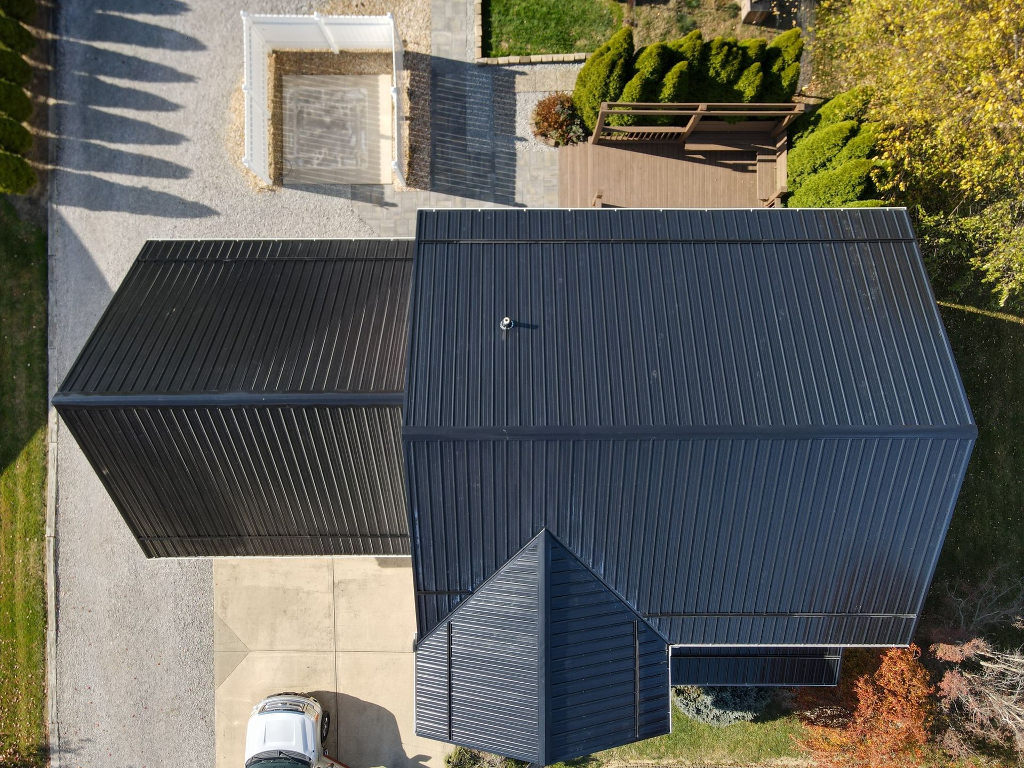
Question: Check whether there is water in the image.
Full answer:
No, there's no water in this view.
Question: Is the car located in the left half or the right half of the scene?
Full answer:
The car appears in the left half of the scene.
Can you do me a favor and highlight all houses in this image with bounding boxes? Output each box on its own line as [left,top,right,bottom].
[54,206,978,768]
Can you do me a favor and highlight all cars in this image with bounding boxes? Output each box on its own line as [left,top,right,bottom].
[245,691,361,768]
